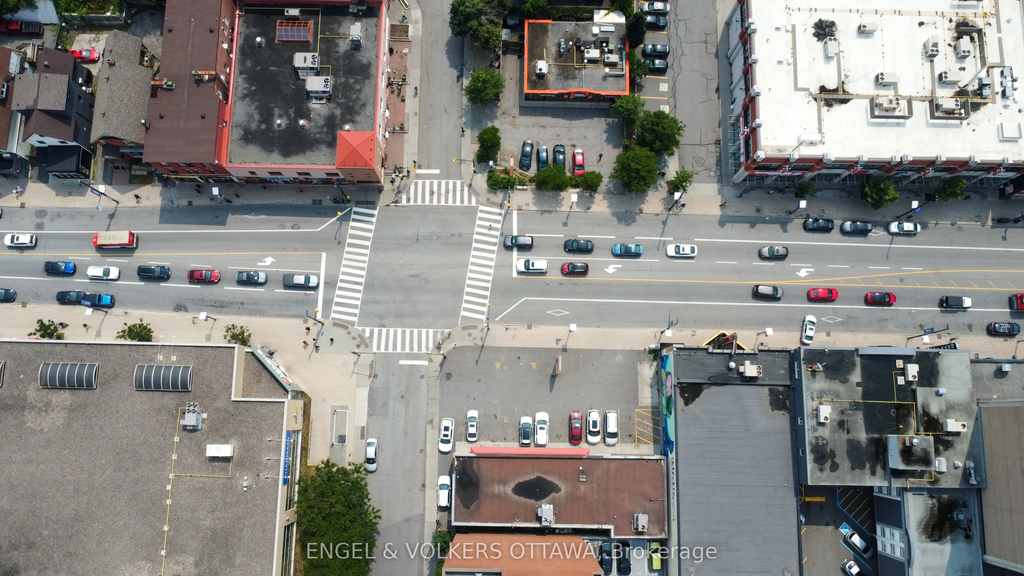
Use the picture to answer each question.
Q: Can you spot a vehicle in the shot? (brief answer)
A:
Yes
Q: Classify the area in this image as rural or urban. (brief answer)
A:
urban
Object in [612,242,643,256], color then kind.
blue car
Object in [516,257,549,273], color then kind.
white car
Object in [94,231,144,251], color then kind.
white vehicle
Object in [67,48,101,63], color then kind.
red car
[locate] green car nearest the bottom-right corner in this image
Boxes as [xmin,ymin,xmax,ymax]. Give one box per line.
[649,541,664,571]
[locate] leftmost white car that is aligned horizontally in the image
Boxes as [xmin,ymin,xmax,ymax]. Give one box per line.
[3,232,39,248]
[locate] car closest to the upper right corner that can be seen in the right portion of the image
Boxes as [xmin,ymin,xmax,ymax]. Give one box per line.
[886,221,922,236]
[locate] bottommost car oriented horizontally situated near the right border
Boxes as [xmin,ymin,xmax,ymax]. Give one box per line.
[987,321,1021,336]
